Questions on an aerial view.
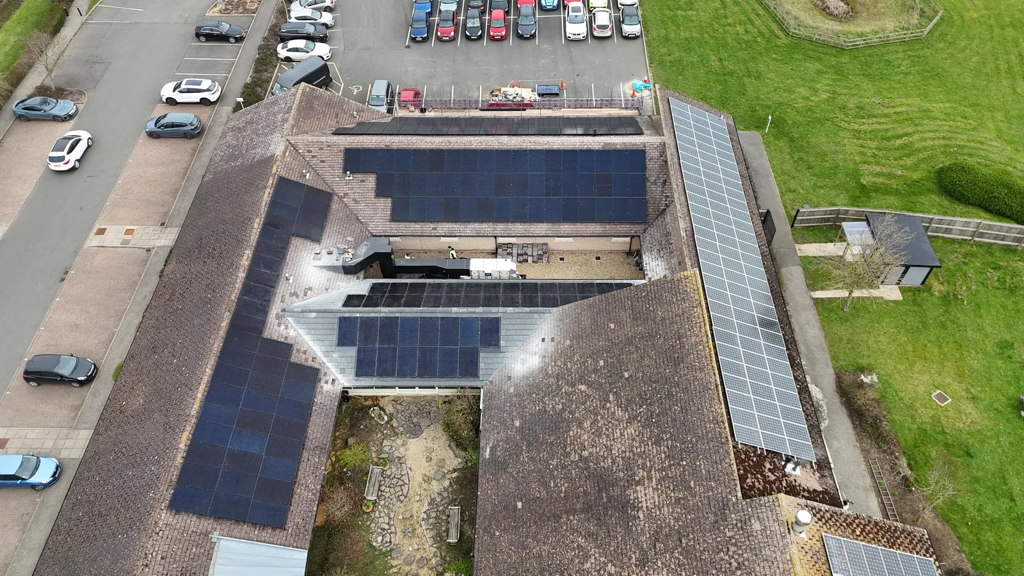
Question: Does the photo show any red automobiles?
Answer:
Yes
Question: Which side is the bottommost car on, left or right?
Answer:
left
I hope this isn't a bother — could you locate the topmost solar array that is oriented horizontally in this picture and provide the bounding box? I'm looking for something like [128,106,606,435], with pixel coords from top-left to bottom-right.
[333,115,643,133]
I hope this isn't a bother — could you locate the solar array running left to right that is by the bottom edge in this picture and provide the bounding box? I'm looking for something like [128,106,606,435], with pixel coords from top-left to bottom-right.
[823,533,941,576]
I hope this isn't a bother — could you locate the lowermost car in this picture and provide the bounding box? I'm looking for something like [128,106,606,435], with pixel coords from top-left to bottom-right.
[0,447,57,489]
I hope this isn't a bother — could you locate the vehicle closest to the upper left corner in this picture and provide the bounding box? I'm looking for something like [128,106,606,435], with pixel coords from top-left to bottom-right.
[9,95,74,121]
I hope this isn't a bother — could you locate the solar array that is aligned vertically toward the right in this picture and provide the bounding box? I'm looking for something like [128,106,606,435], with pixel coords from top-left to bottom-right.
[670,96,815,466]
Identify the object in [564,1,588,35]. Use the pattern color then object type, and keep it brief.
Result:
white car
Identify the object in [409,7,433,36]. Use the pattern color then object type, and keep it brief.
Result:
blue car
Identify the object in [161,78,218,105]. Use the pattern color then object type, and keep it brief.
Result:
white car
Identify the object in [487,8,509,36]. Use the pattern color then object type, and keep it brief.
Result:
red car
